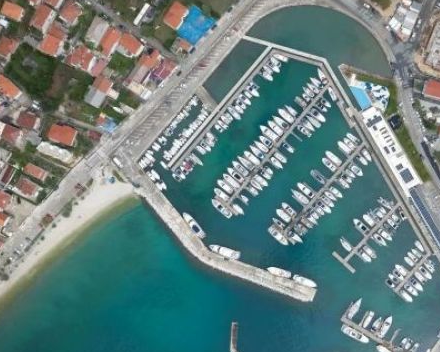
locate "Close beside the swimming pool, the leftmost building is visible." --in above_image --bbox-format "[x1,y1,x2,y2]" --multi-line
[361,108,424,197]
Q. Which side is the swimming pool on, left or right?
right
